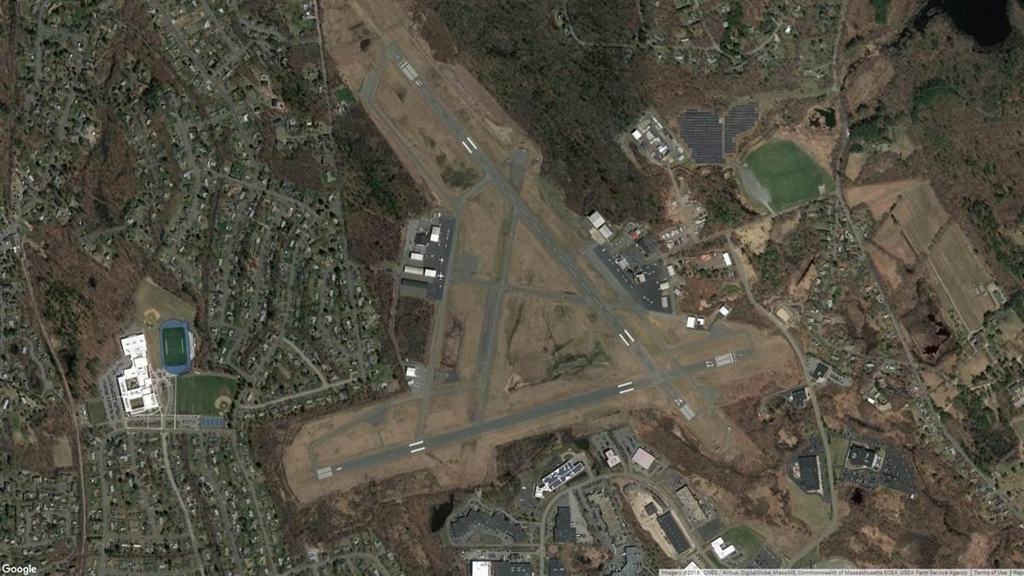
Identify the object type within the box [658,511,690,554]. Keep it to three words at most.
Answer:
building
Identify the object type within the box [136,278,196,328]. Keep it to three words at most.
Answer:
baseball field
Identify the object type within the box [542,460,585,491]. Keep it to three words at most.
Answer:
building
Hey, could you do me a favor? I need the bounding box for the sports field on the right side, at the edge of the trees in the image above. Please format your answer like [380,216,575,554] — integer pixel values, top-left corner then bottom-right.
[739,140,834,212]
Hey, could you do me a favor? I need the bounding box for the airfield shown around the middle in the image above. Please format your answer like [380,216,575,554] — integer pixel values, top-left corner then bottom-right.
[307,41,755,480]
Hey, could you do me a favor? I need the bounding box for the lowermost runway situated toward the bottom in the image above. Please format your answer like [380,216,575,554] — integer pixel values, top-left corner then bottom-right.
[313,346,755,480]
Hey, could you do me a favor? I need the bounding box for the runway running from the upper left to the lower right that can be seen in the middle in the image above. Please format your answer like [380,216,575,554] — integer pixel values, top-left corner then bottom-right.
[385,41,698,423]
